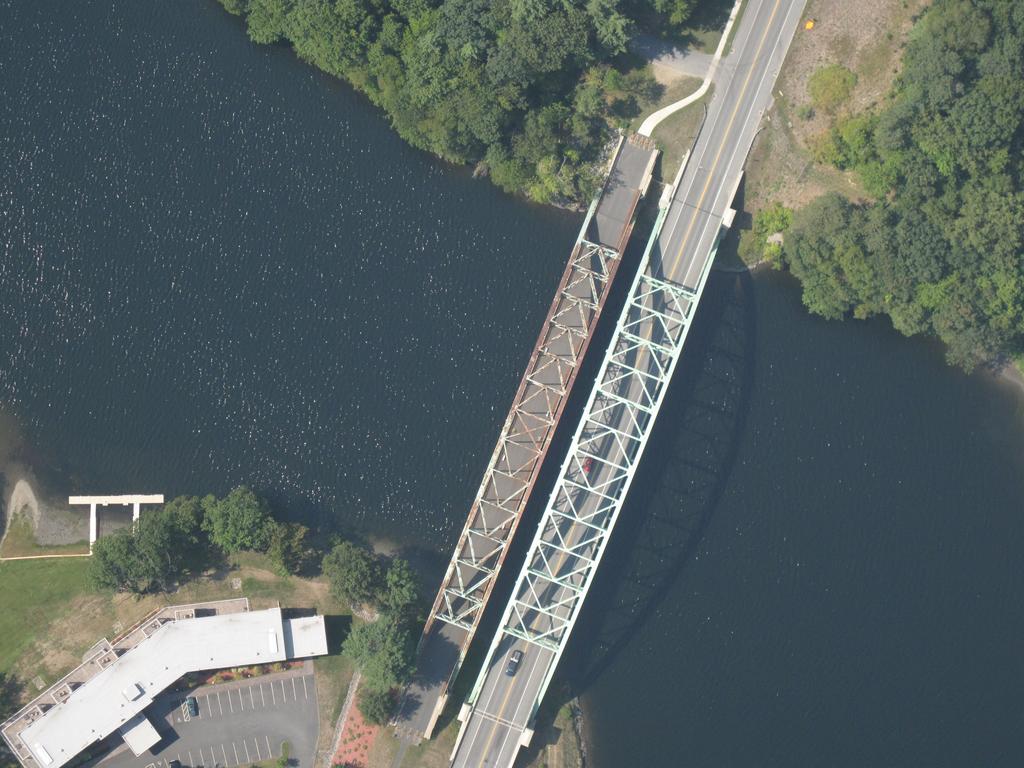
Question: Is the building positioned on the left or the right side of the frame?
left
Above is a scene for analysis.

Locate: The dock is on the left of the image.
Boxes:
[69,495,165,553]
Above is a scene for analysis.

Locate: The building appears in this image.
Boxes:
[0,597,334,768]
